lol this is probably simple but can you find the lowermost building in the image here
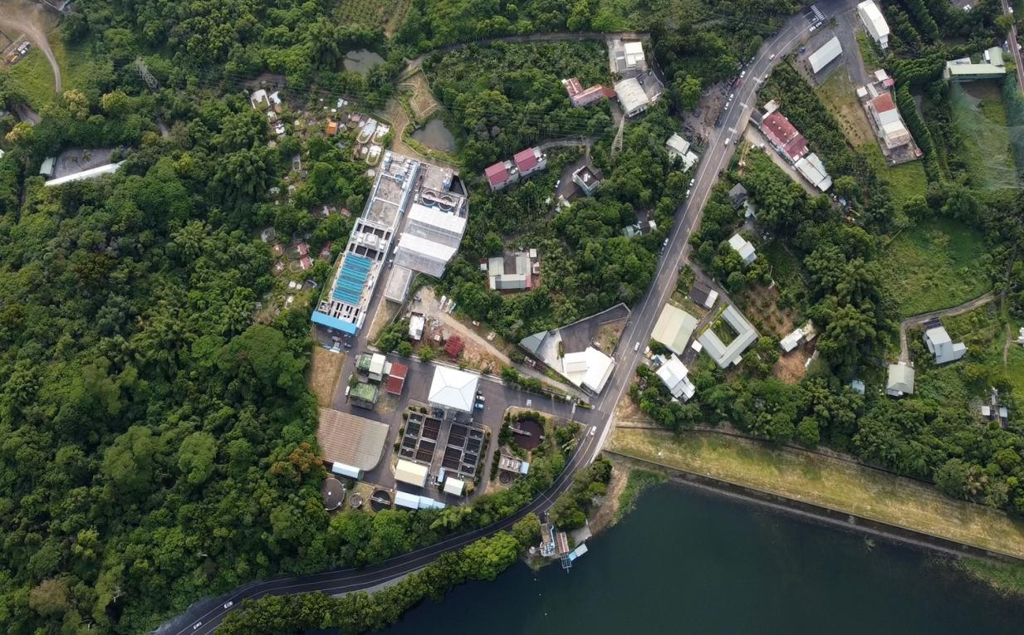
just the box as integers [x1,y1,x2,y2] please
[539,523,555,557]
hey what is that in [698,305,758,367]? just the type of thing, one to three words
building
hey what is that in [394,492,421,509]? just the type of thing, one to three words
shed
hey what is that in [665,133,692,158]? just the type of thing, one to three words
building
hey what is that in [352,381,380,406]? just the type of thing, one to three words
house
